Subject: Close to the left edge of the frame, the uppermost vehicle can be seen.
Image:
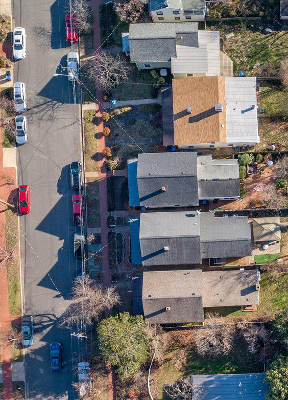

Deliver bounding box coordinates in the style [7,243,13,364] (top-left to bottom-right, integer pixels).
[11,27,28,60]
